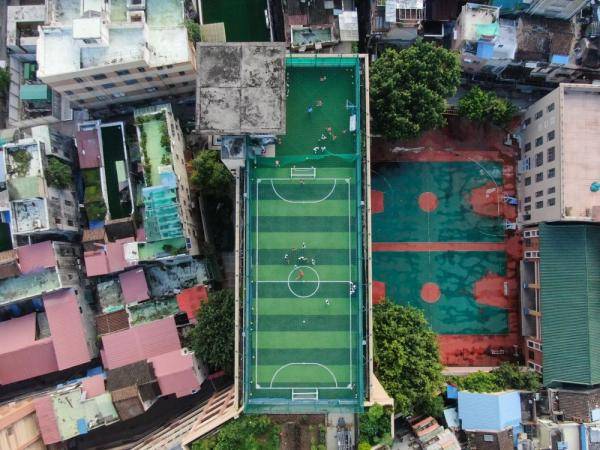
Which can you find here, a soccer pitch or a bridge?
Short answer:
soccer pitch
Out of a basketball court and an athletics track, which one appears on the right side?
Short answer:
basketball court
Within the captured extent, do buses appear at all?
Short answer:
No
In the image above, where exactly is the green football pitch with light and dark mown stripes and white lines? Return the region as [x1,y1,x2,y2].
[249,168,357,401]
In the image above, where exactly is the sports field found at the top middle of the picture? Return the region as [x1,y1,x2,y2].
[250,66,357,167]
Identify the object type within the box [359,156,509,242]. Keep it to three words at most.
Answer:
basketball court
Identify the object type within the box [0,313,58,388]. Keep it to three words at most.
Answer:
house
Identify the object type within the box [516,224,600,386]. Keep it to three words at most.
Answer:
building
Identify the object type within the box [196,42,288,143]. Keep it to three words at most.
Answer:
building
